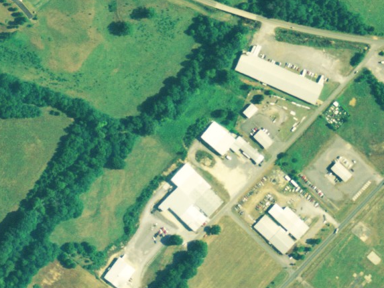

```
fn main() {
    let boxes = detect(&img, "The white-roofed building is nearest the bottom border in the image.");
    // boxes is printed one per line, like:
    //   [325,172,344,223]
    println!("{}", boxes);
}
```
[103,255,135,288]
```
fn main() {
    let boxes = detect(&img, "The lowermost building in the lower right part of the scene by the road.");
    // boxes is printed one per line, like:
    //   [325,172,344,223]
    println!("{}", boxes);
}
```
[253,204,309,255]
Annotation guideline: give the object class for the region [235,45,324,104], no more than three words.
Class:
building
